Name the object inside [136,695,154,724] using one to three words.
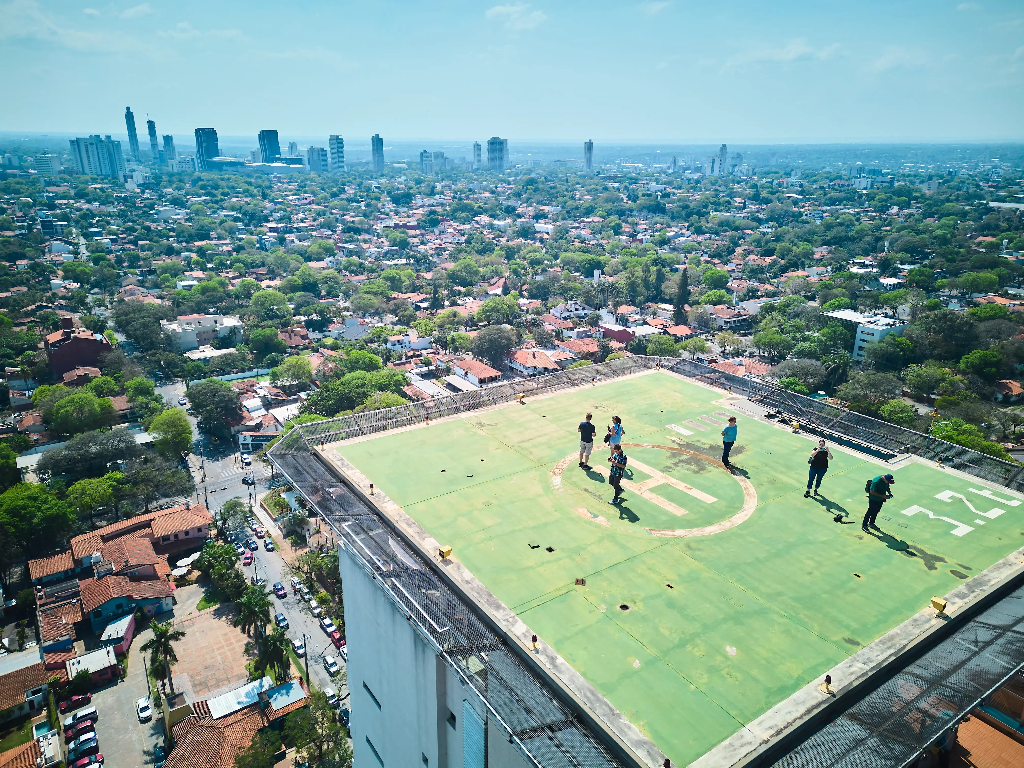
car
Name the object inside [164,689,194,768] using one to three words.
house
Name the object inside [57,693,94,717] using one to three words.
car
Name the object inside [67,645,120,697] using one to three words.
house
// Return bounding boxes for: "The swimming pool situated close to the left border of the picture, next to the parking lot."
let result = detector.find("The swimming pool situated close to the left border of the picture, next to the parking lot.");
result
[34,719,53,733]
